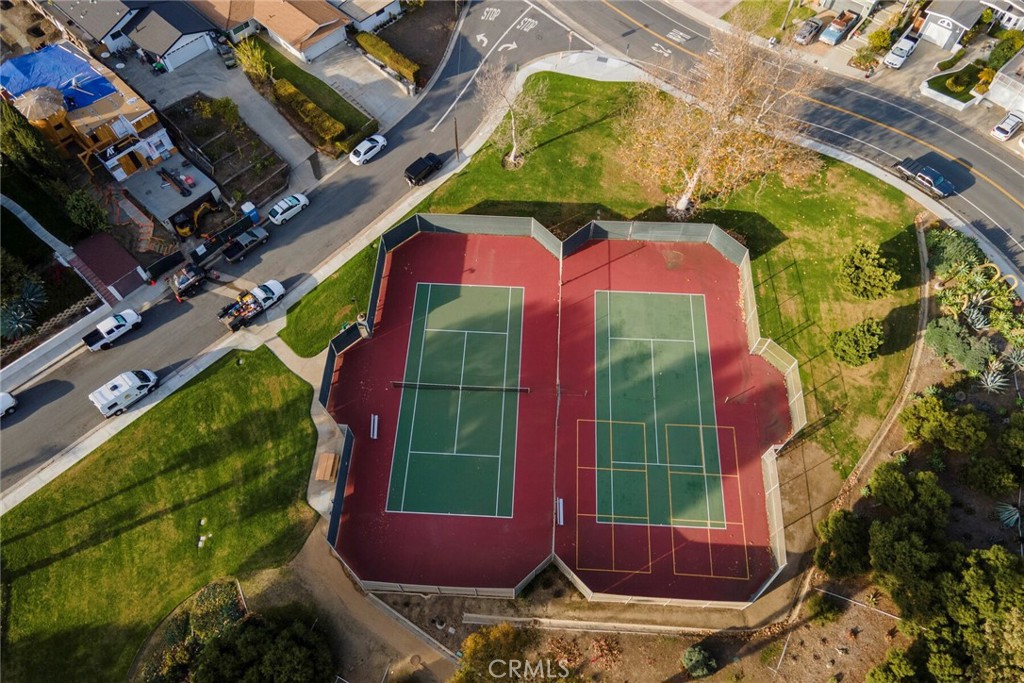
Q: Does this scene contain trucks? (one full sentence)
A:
Yes, I can see a truck in this picture.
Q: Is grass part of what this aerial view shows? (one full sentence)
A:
Yes, some grass is visible.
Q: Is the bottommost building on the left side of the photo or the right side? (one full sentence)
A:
You can find the bottommost building on the left side of the picture.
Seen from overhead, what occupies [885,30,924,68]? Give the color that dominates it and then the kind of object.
white truck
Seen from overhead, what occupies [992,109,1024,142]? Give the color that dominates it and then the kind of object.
white car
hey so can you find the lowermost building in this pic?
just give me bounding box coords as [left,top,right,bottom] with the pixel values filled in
[74,233,151,299]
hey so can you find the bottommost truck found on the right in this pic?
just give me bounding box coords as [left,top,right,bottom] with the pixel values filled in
[898,155,960,199]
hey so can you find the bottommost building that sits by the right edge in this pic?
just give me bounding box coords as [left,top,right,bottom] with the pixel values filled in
[990,47,1024,111]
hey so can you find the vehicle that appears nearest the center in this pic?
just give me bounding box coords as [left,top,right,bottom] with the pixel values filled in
[405,155,441,185]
